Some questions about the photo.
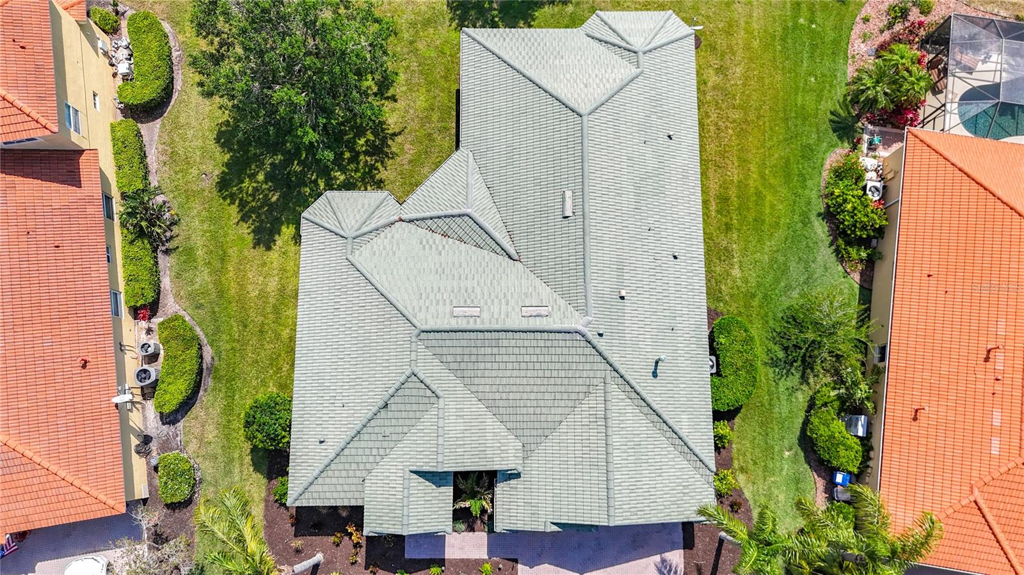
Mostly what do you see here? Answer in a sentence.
For the most part, this view shows buildings.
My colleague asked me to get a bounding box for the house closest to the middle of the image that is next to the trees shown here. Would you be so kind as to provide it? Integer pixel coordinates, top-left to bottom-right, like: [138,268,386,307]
[284,7,717,539]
